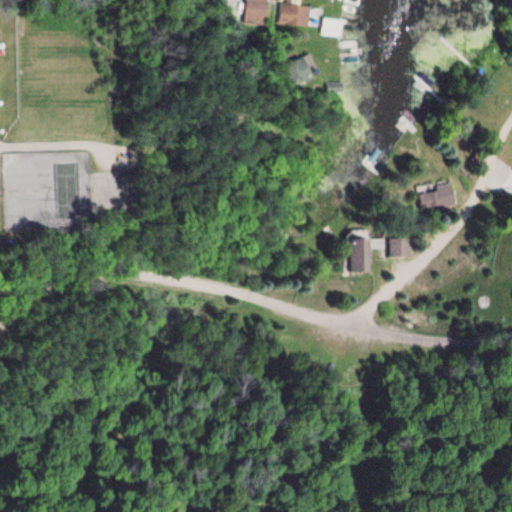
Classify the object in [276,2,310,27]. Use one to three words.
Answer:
house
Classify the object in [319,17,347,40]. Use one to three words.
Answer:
building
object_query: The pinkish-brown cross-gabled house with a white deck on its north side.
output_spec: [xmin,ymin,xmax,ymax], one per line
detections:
[416,178,455,209]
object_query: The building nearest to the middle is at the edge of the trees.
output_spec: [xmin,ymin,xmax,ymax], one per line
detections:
[350,238,372,273]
